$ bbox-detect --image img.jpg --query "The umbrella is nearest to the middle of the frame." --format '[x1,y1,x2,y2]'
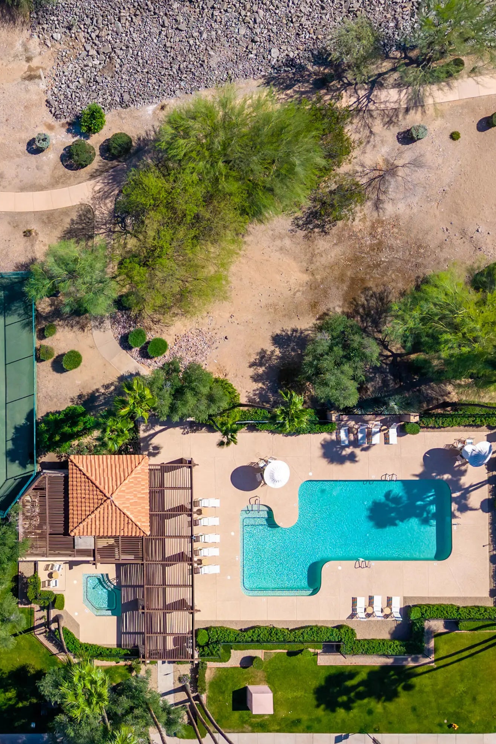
[261,458,291,489]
